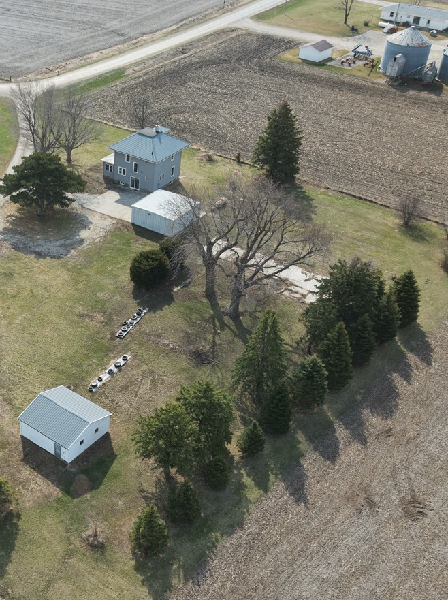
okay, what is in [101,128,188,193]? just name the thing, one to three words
house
